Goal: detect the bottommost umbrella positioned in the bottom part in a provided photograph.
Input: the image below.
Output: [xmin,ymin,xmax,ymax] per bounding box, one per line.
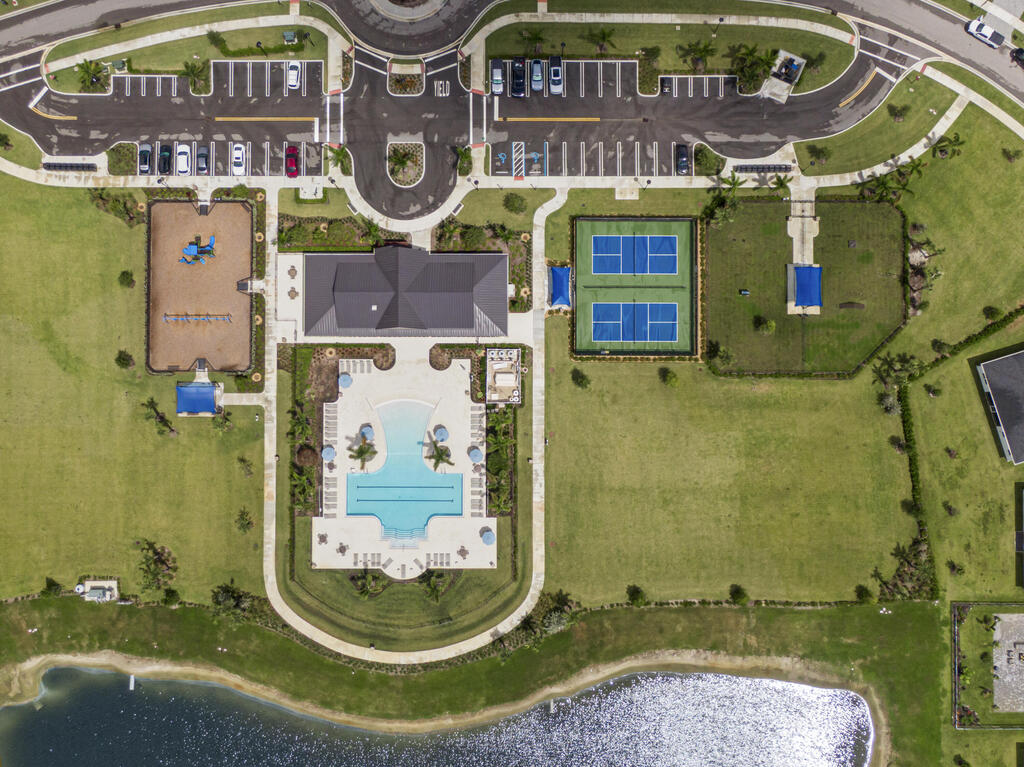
[482,530,496,545]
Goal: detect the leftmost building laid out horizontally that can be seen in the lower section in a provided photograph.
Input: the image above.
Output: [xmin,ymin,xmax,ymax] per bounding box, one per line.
[84,587,116,601]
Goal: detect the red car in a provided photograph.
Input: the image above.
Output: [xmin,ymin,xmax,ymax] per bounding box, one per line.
[284,147,300,178]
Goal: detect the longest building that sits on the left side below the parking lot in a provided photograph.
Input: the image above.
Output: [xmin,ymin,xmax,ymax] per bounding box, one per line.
[304,245,509,337]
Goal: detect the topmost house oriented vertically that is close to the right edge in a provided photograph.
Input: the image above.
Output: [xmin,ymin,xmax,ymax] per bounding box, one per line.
[976,352,1024,465]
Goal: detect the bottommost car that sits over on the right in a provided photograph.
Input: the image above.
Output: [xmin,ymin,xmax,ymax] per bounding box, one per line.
[676,145,691,176]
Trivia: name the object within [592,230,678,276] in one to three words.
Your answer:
sports court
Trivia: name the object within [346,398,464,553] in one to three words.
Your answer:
swimming pool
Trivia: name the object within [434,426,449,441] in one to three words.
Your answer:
umbrella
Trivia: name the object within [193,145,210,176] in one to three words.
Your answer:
car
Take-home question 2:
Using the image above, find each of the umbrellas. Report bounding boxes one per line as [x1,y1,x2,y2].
[482,530,496,545]
[338,373,353,388]
[434,426,449,441]
[322,447,336,461]
[360,425,374,440]
[469,448,483,462]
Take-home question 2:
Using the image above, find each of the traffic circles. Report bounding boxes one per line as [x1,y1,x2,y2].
[330,0,486,56]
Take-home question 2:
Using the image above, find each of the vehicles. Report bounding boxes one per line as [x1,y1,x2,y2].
[548,57,564,96]
[135,144,153,175]
[530,61,545,92]
[230,144,246,175]
[156,144,173,176]
[174,145,191,176]
[510,58,526,97]
[676,145,691,176]
[284,147,300,178]
[660,76,671,94]
[967,18,1007,49]
[285,60,302,91]
[193,145,210,176]
[489,61,505,93]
